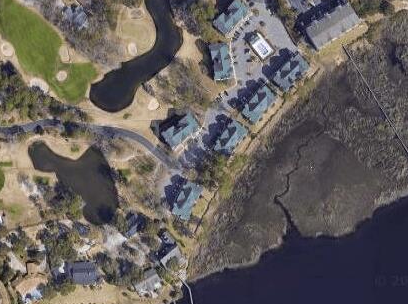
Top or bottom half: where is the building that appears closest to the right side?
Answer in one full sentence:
It is in the top half that the building that appears closest to the right side appears.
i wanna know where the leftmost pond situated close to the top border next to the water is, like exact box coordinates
[90,0,182,112]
